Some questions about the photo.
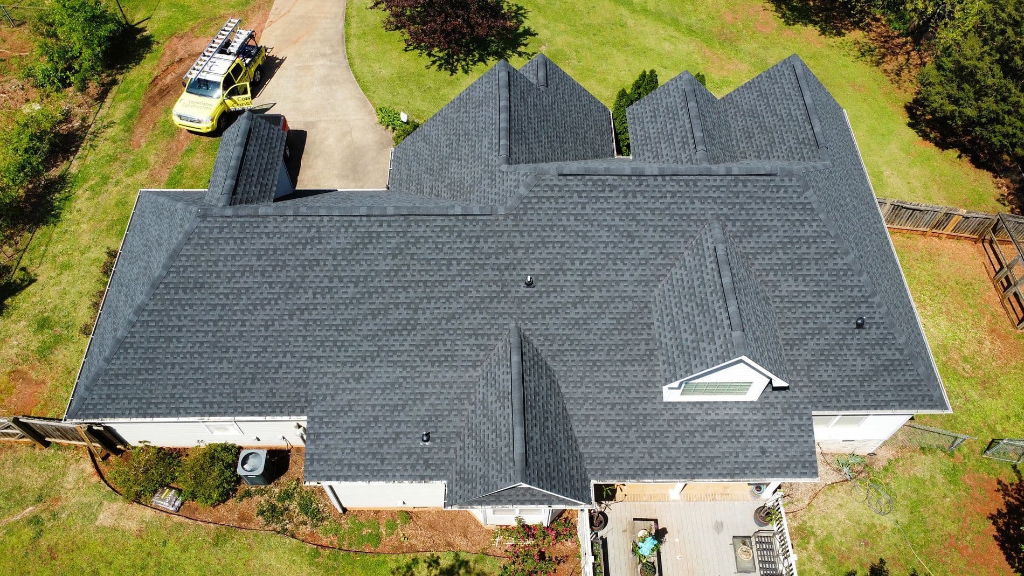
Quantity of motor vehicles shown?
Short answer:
2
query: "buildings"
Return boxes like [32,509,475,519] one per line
[60,51,955,537]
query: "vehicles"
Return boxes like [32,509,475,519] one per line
[252,114,290,168]
[171,24,275,137]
